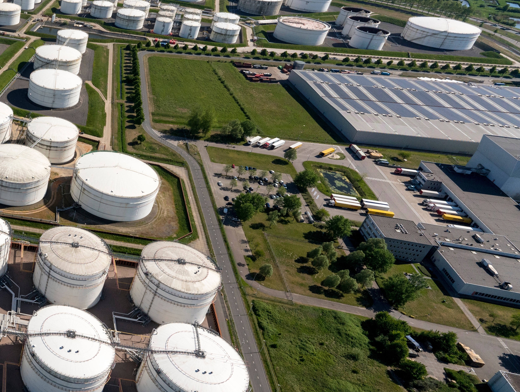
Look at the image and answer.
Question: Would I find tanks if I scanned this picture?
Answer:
Yes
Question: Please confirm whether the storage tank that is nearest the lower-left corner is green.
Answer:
No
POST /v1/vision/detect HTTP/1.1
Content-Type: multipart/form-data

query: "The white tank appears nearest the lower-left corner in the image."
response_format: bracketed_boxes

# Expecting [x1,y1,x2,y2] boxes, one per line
[17,305,117,392]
